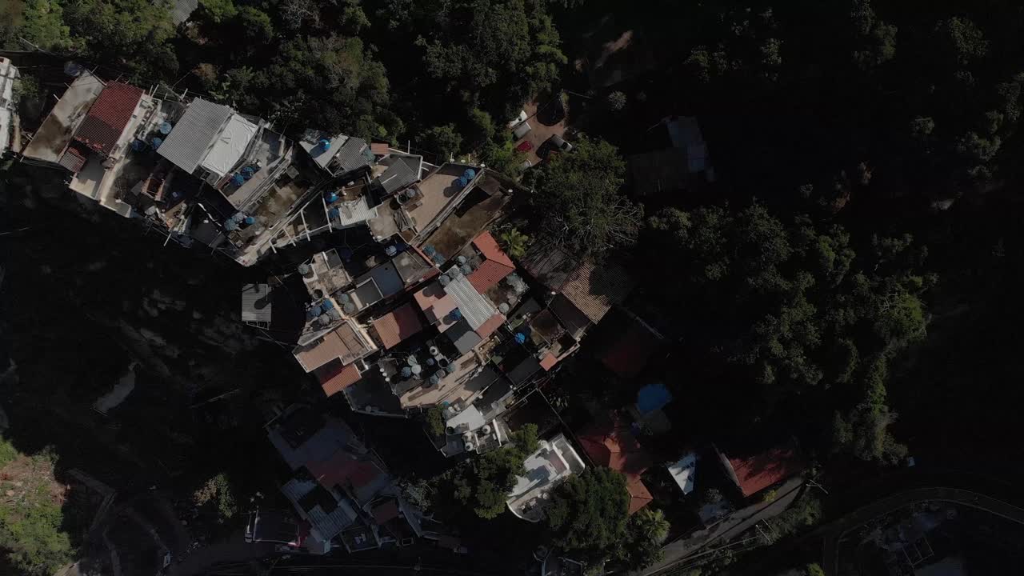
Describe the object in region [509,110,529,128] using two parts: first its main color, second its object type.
white car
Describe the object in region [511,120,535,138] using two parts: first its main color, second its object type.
gray vehicle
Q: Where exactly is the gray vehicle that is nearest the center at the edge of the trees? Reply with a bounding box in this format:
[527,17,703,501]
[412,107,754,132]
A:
[517,158,536,172]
